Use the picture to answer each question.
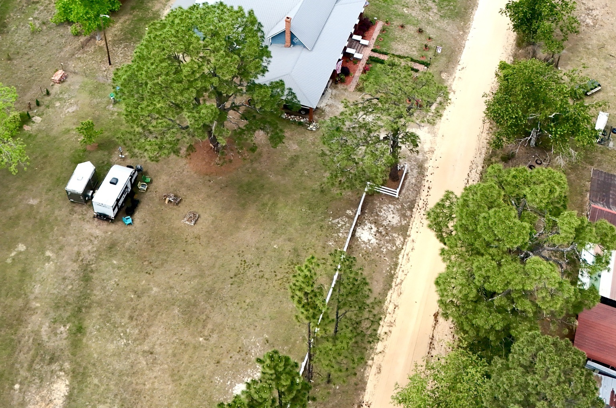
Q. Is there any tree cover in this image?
Yes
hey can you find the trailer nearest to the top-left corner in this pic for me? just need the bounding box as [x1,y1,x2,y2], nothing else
[64,160,97,204]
